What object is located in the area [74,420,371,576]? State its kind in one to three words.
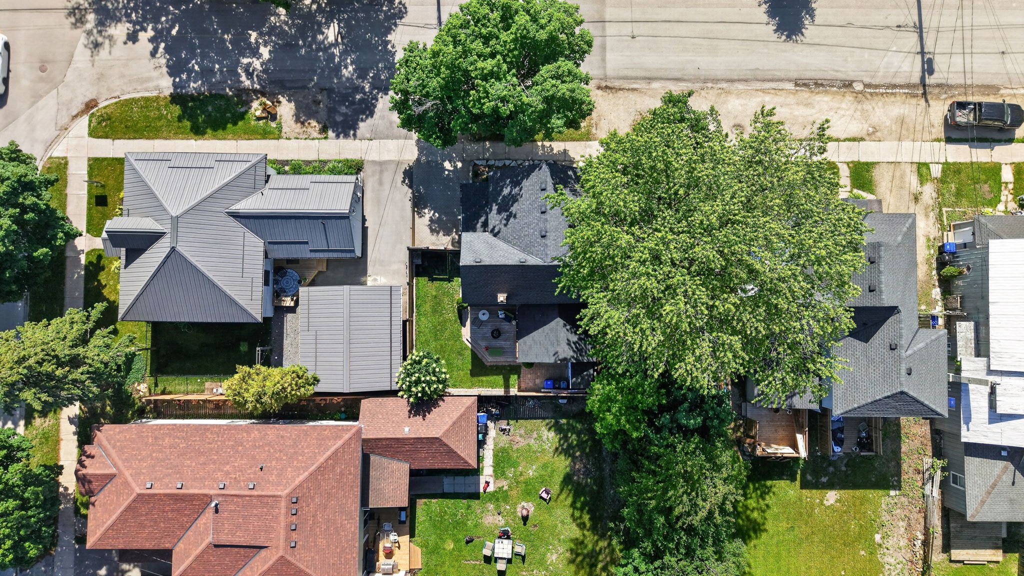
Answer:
house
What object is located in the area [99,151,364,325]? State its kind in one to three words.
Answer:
house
